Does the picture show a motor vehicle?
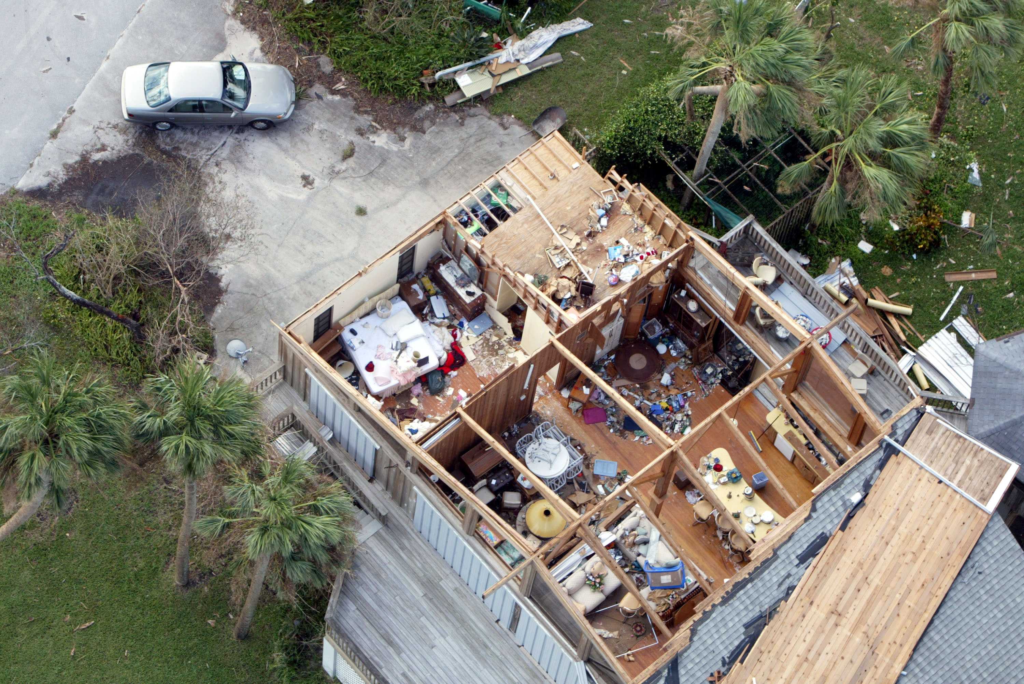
Yes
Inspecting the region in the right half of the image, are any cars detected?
No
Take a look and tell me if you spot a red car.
No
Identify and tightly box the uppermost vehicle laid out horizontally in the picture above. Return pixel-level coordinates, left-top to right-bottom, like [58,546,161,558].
[124,55,299,133]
